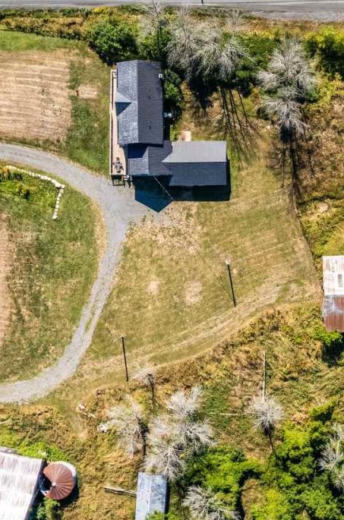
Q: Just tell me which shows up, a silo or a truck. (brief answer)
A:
silo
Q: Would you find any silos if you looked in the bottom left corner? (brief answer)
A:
Yes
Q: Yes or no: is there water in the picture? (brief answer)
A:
No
